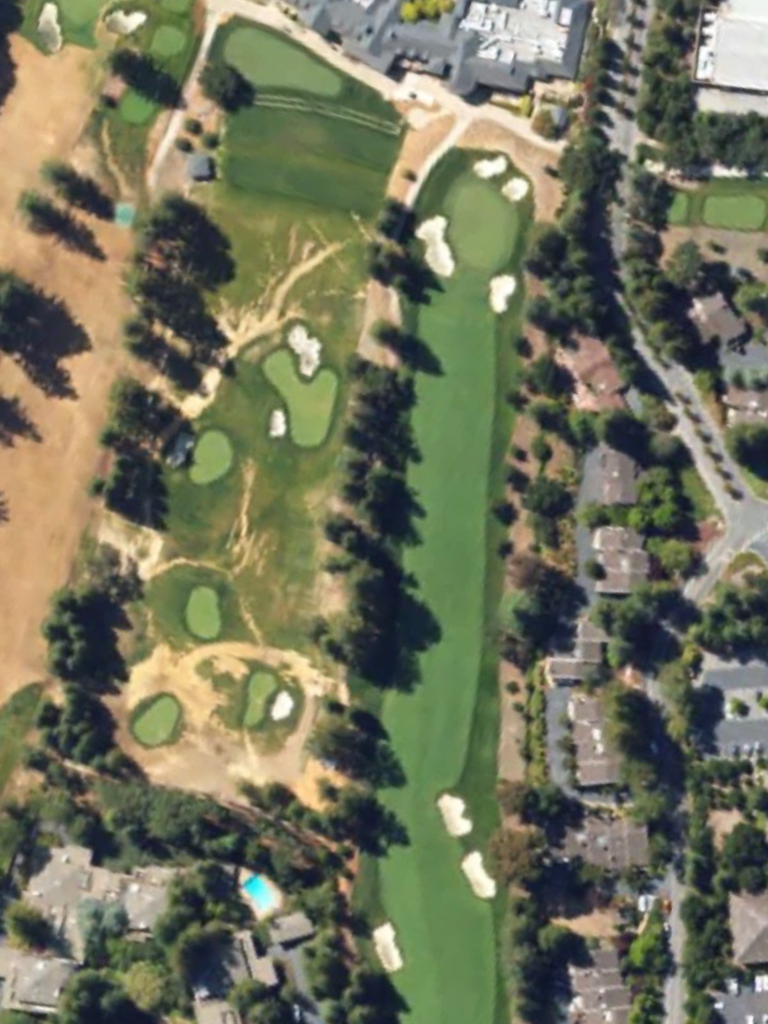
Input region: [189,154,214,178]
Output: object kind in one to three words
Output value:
building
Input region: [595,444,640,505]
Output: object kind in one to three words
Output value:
house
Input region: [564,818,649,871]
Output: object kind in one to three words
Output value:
house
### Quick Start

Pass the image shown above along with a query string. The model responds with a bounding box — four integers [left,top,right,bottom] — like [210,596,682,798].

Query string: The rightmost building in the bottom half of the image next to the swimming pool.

[271,912,312,943]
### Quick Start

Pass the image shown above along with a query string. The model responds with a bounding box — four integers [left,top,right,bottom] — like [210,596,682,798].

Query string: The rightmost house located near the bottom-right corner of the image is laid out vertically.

[731,892,768,969]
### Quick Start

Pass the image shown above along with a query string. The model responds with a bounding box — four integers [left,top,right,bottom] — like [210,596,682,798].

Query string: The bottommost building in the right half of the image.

[568,946,633,1024]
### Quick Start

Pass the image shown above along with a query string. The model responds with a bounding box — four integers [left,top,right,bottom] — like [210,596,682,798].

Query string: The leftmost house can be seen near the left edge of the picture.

[0,950,77,1013]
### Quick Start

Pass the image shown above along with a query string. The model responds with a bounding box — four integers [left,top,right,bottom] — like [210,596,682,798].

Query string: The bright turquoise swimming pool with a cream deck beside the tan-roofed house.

[236,865,282,923]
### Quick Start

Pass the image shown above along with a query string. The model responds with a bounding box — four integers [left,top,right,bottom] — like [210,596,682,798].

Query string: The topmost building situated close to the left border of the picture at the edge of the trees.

[24,843,171,958]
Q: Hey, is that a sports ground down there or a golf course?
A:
golf course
